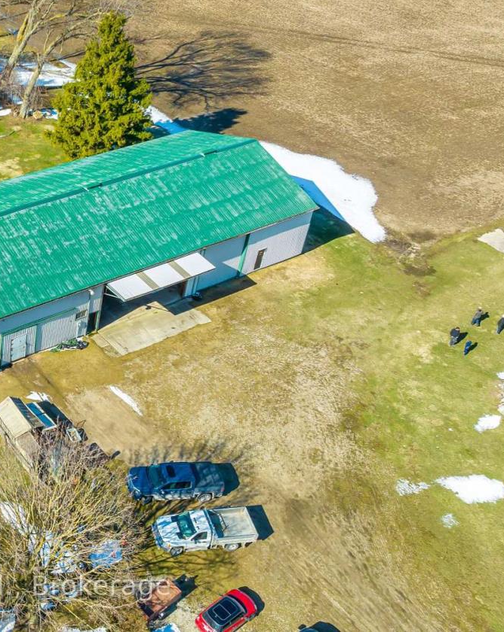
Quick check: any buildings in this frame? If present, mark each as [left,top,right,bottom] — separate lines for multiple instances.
[0,395,66,488]
[0,128,321,366]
